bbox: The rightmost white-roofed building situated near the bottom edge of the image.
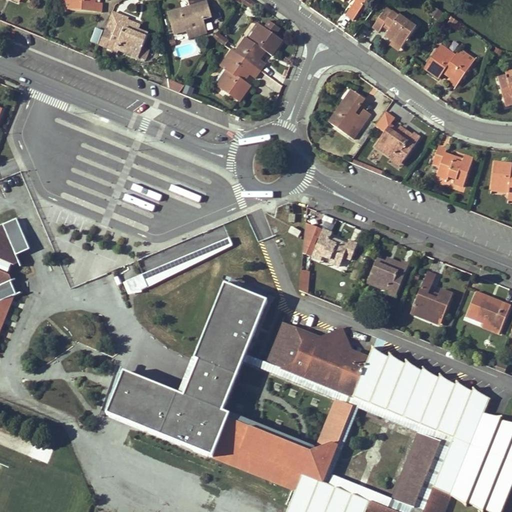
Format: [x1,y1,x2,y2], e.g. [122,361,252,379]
[450,412,512,512]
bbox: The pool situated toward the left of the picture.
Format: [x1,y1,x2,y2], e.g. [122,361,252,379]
[173,40,201,60]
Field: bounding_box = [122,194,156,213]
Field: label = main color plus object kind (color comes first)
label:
white vehicle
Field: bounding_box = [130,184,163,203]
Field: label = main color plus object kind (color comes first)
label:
white vehicle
